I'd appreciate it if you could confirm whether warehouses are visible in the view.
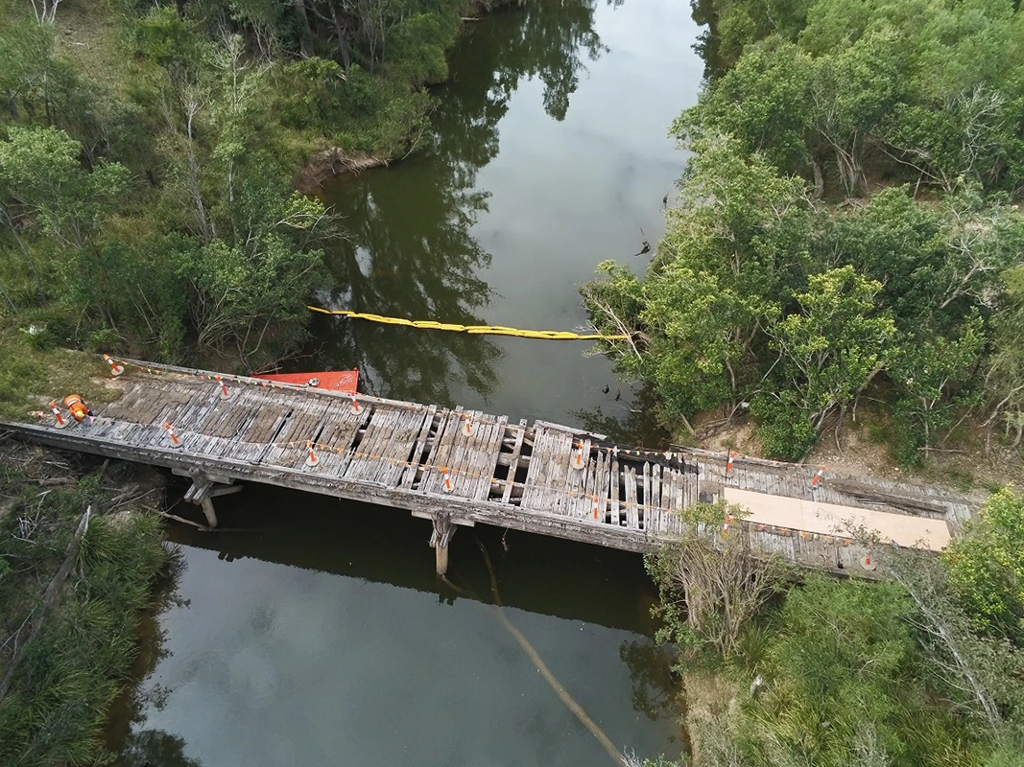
No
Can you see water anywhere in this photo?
Yes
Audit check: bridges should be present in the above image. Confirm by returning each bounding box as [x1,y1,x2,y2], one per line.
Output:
[0,351,992,609]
